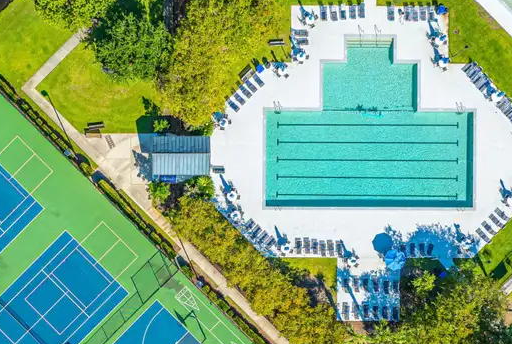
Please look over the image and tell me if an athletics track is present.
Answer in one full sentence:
No, the photo shows no athletics track.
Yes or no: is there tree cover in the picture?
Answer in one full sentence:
Yes, tree cover can be seen from above here.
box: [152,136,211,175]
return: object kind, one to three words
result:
building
